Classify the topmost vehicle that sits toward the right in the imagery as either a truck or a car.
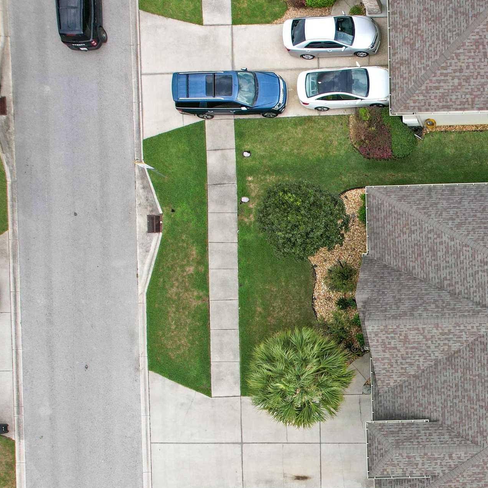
car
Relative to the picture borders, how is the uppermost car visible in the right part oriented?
from left to right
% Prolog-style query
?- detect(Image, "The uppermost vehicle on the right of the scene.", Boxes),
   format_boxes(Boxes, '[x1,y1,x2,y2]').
[281,10,379,60]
